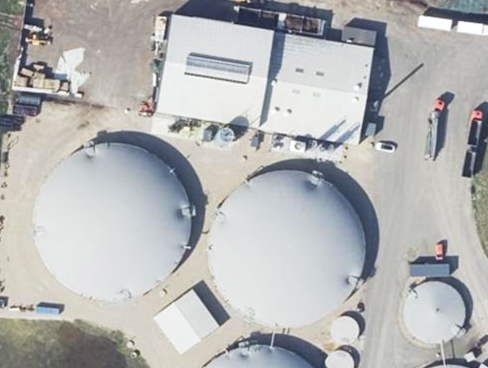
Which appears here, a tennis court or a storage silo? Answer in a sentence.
Looking from above, you can make out a storage silo.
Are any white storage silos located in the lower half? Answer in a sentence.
Yes, I can see a white storage silo in the lower half.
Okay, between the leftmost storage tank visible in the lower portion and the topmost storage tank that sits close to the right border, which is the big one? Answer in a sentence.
Of the two, the leftmost storage tank visible in the lower portion is larger and the topmost storage tank that sits close to the right border is the smaller one.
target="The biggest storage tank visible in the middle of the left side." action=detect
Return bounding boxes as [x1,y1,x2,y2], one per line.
[32,139,198,306]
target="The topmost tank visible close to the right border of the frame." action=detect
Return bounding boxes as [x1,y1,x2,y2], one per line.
[403,281,469,344]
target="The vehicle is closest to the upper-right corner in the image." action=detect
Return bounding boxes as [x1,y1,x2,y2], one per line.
[457,22,488,37]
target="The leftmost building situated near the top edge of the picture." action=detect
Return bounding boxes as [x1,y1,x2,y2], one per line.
[155,14,274,127]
